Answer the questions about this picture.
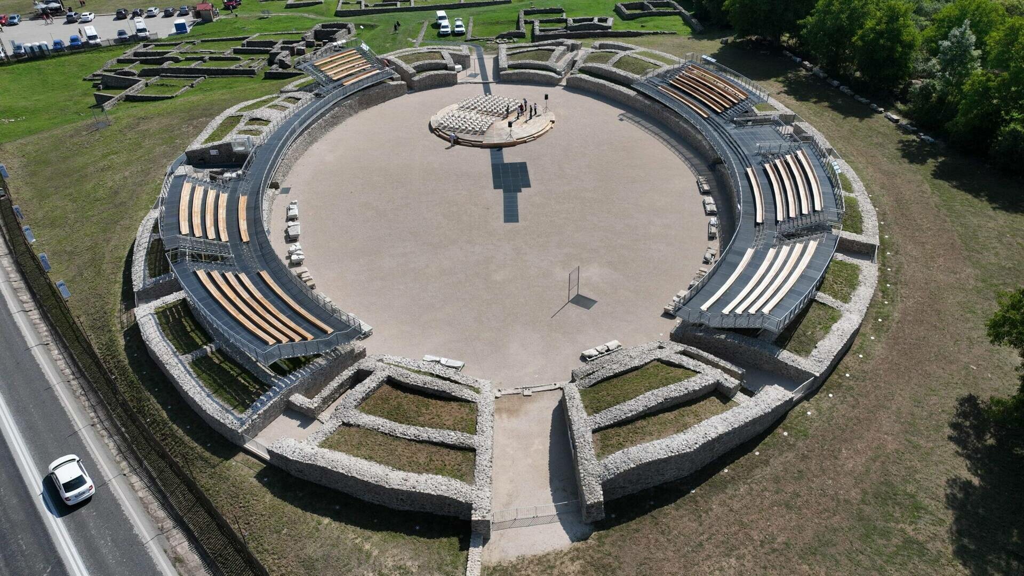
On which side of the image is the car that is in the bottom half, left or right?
left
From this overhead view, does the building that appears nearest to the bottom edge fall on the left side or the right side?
left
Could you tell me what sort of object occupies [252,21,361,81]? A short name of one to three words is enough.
building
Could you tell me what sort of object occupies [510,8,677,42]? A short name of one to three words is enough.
building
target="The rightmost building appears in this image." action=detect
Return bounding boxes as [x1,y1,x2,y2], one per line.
[614,0,705,35]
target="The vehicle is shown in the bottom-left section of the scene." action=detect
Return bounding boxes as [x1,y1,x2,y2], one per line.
[47,456,98,511]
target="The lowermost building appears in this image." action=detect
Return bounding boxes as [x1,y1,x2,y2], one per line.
[93,74,207,116]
